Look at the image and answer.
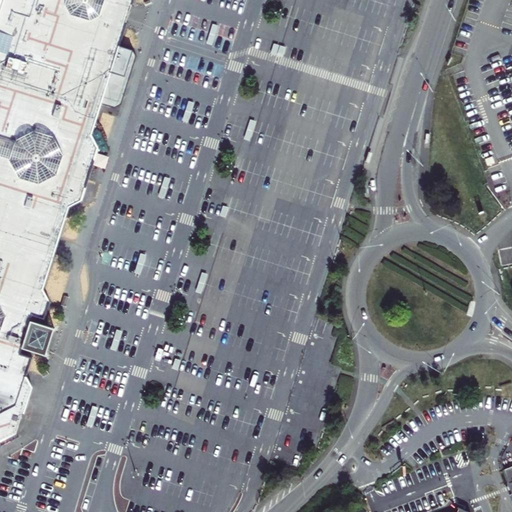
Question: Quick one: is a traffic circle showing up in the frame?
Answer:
Yes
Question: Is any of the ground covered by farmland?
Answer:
No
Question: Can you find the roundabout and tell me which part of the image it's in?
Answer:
right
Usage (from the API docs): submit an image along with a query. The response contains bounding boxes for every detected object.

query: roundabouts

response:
[346,221,496,371]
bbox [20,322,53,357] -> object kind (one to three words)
building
